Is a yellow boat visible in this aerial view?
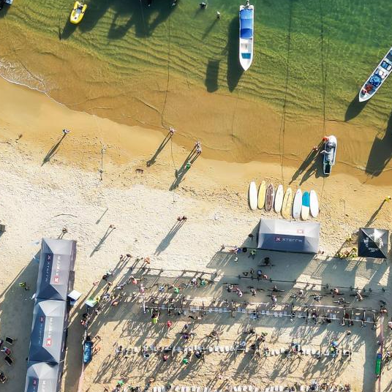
Yes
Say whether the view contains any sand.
Yes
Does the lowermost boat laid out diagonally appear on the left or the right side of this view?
right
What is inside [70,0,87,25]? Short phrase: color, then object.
yellow boat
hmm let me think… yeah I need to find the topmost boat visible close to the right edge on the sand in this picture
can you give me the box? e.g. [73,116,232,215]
[360,47,392,102]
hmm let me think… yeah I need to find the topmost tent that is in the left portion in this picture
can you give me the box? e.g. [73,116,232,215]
[35,237,80,301]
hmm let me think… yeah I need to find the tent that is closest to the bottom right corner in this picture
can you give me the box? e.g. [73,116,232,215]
[355,225,390,258]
